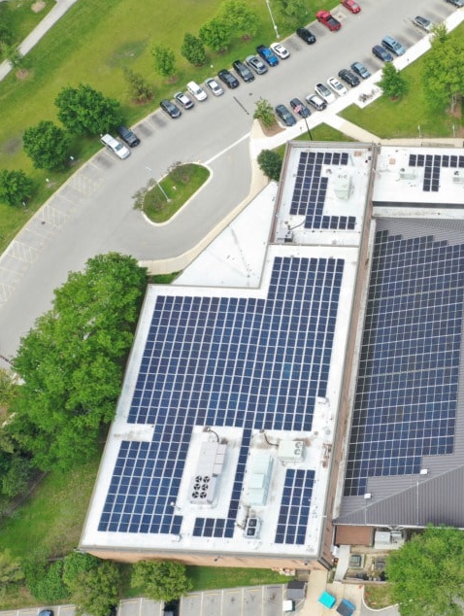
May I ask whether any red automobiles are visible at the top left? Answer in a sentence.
No, at the top left there is no red automobile.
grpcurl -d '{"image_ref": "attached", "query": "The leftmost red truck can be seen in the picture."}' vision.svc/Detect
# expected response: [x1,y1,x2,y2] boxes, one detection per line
[315,9,342,34]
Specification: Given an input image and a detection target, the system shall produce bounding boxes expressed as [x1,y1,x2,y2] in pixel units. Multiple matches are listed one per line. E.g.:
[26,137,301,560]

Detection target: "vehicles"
[229,57,257,83]
[340,0,362,15]
[183,77,209,104]
[370,43,394,64]
[116,124,141,149]
[410,11,435,34]
[275,105,297,127]
[304,91,329,114]
[348,60,373,81]
[288,96,311,119]
[201,76,225,97]
[253,43,281,69]
[98,603,118,616]
[217,69,241,90]
[294,24,318,47]
[312,82,336,105]
[101,132,128,159]
[380,33,407,57]
[336,66,362,89]
[315,9,342,34]
[158,97,182,120]
[161,596,181,616]
[325,76,348,97]
[173,90,195,111]
[268,41,291,61]
[245,54,267,76]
